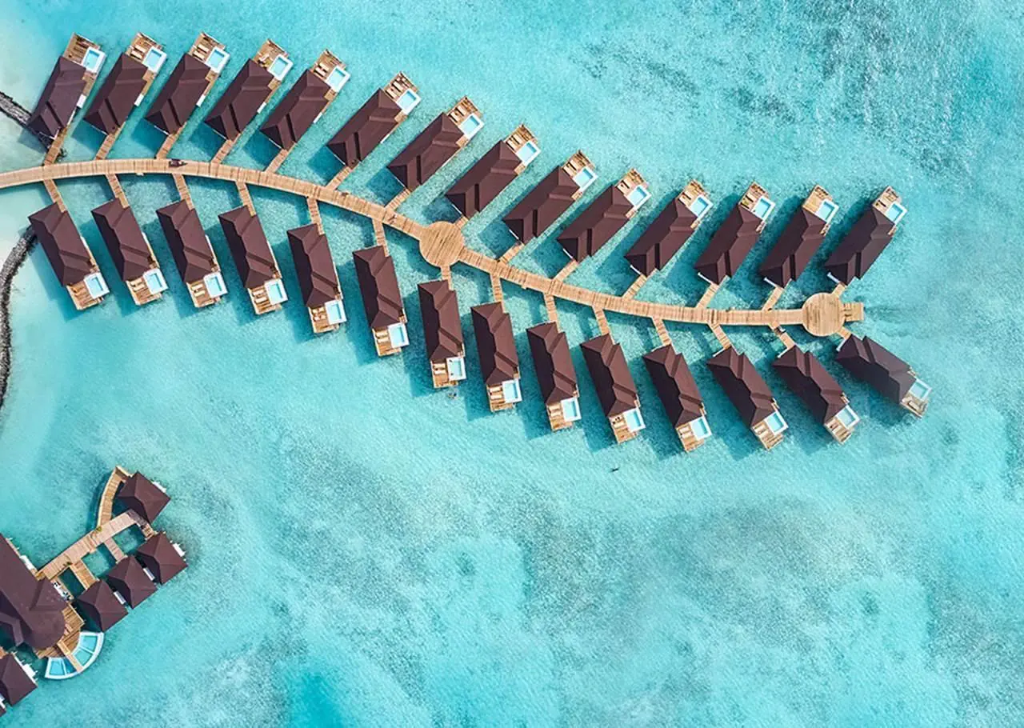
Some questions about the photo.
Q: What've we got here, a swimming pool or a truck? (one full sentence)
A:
Looking from above, you can make out a swimming pool.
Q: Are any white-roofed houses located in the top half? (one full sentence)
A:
No, I can find no white-roofed house in the top half.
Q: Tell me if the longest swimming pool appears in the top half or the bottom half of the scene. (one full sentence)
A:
The longest swimming pool is in the bottom half of the image.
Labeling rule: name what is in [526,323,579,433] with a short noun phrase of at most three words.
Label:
house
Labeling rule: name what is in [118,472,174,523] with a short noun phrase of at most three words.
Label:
building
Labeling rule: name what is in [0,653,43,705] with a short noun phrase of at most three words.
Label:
building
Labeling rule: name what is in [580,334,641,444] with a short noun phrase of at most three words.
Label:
house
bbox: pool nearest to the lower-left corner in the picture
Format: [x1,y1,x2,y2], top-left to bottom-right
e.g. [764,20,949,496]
[45,629,109,677]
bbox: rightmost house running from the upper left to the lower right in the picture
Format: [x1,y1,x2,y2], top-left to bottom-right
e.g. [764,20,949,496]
[833,335,930,420]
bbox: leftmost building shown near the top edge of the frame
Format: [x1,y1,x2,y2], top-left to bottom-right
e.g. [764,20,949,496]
[27,33,110,141]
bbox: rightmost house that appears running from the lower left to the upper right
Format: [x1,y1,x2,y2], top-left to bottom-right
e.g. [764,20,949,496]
[821,184,904,285]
